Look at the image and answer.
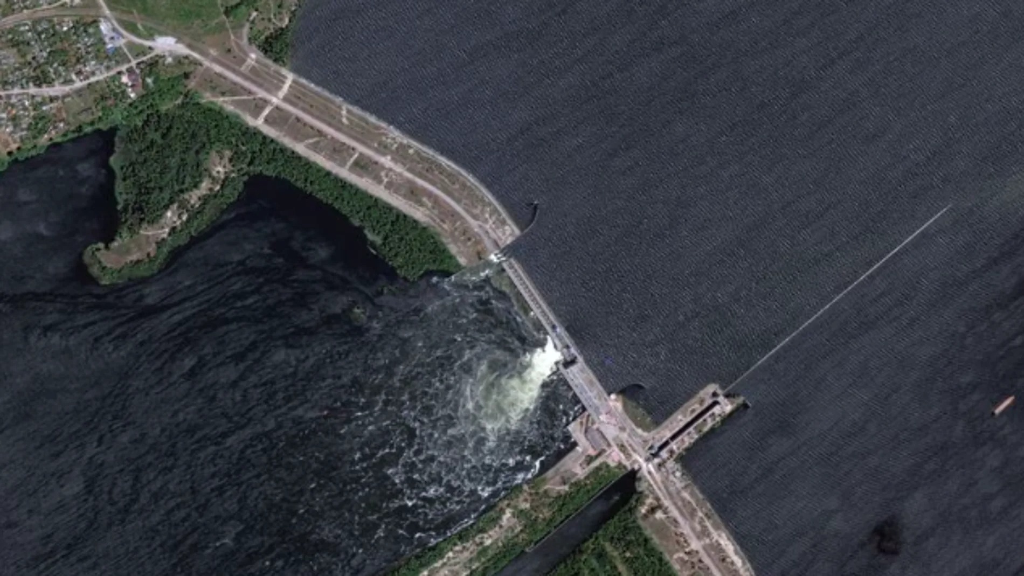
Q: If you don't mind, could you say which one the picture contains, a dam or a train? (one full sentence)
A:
Visible in the photo is a dam.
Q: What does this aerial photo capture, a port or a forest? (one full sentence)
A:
This image shows a port.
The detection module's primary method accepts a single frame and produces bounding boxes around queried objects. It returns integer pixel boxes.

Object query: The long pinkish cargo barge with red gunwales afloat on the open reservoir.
[994,397,1014,416]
